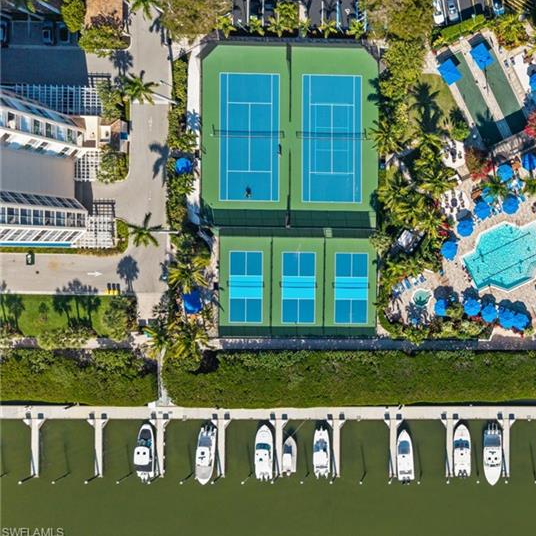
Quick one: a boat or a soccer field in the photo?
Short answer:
boat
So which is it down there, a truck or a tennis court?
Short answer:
tennis court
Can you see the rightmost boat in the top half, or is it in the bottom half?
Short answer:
bottom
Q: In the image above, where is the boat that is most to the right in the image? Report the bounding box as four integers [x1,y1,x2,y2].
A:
[482,423,502,486]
